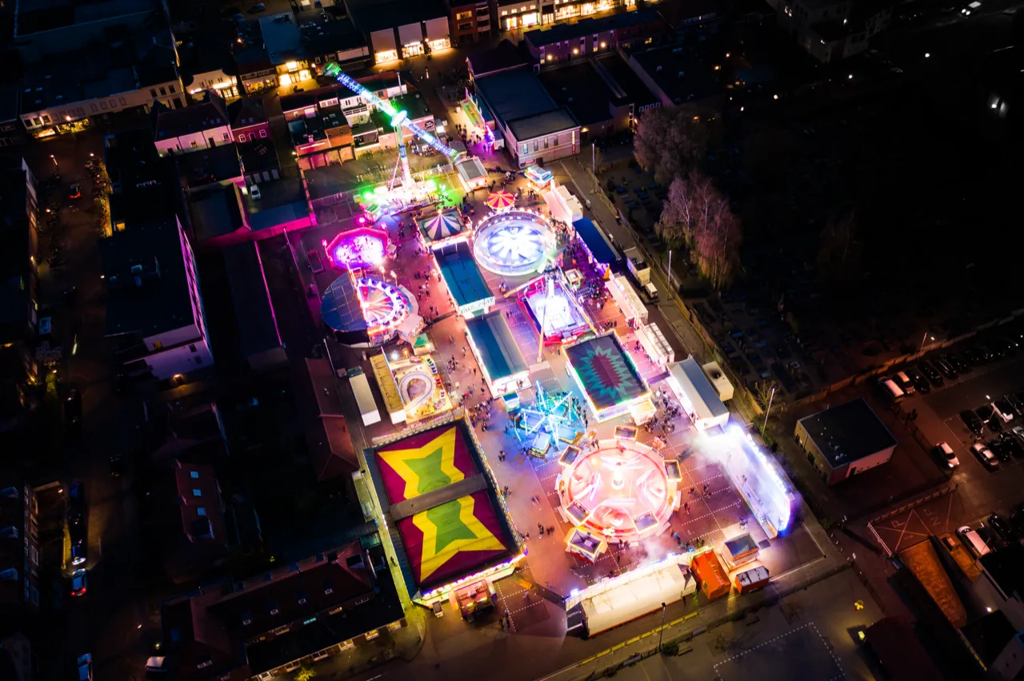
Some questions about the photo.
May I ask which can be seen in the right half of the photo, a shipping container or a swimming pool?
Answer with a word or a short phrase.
shipping container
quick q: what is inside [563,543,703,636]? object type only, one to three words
tent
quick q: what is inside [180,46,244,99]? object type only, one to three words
building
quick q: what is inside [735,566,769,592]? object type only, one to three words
shipping container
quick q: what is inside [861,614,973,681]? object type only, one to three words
shed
